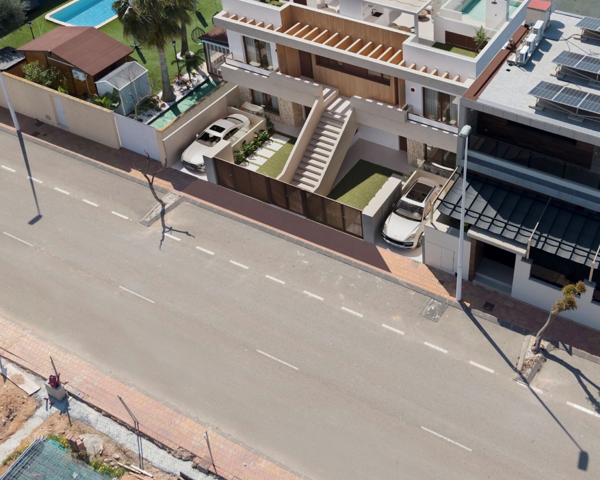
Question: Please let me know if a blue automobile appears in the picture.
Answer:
No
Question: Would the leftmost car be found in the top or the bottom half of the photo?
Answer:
top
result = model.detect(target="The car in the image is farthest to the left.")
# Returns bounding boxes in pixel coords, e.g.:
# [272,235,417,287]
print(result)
[184,111,257,170]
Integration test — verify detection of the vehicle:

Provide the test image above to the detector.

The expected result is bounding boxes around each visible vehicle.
[184,111,257,170]
[386,169,456,246]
